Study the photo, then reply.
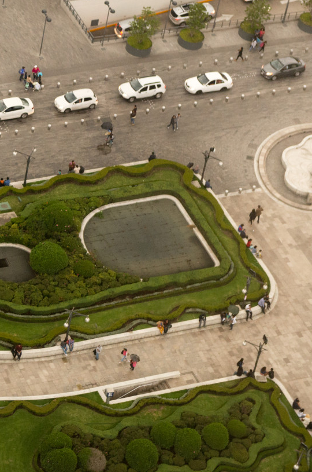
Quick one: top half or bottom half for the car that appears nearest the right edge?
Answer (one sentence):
The car that appears nearest the right edge is in the top half of the image.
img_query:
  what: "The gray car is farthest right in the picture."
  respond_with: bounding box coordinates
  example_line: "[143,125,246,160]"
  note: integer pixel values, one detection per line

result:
[256,56,311,81]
